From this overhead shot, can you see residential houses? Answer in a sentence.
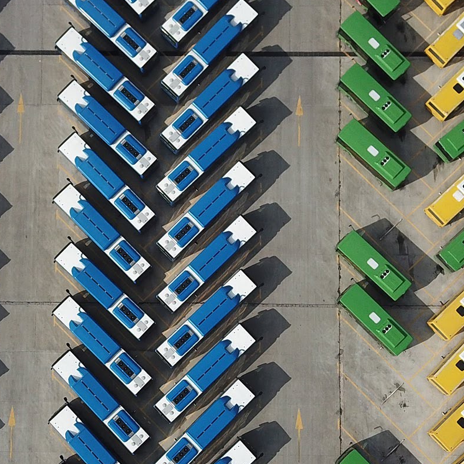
No, there's no residential house here.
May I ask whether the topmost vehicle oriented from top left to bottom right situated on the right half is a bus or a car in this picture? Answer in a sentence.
What you see as the topmost vehicle oriented from top left to bottom right situated on the right half is a bus.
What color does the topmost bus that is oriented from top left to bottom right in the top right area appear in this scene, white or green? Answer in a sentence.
The color of the topmost bus that is oriented from top left to bottom right in the top right area is green.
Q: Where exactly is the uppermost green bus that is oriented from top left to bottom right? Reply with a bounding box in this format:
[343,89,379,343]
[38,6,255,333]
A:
[337,8,409,87]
